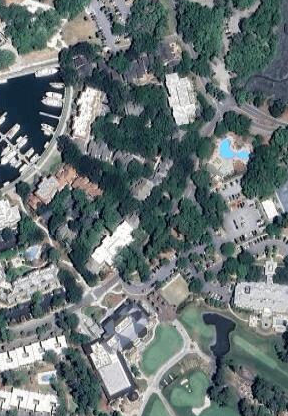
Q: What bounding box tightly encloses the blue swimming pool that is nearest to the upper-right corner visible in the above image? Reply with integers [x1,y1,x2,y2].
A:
[219,138,251,160]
